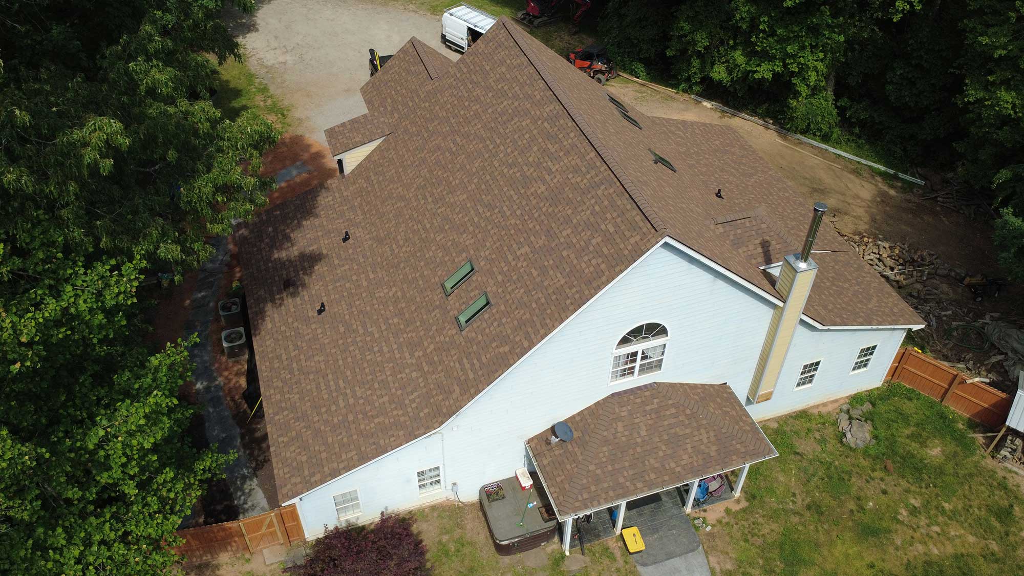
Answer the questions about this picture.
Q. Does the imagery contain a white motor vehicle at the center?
No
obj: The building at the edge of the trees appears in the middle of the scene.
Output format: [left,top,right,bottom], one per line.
[235,16,925,555]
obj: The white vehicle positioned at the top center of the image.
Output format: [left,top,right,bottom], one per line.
[440,2,498,50]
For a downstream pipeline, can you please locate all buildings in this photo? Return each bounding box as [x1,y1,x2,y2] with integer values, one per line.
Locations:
[987,375,1024,455]
[235,16,925,555]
